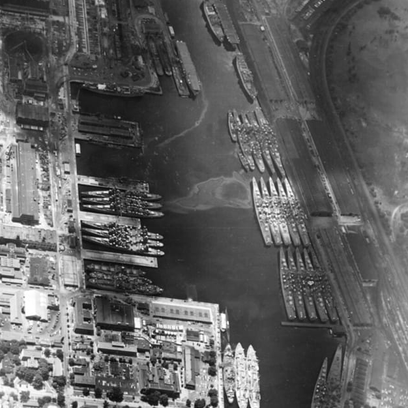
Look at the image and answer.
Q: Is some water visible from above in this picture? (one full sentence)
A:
Yes, there is water in the image.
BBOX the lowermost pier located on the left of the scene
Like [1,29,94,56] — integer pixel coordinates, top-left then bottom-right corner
[81,249,158,269]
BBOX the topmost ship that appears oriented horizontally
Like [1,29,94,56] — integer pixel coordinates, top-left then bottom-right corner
[82,81,144,98]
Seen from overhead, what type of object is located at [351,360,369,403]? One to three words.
building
